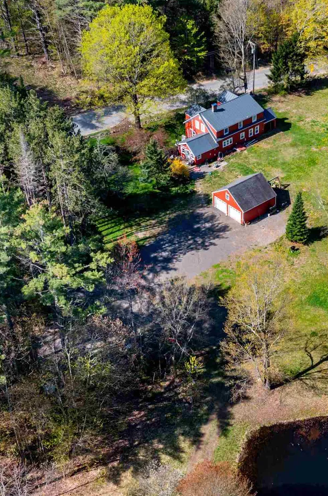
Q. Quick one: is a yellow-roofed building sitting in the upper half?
No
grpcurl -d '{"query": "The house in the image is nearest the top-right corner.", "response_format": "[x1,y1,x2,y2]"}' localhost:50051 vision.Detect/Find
[177,90,279,164]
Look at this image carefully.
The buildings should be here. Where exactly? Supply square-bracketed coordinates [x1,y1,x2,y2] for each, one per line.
[211,171,277,224]
[177,90,279,164]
